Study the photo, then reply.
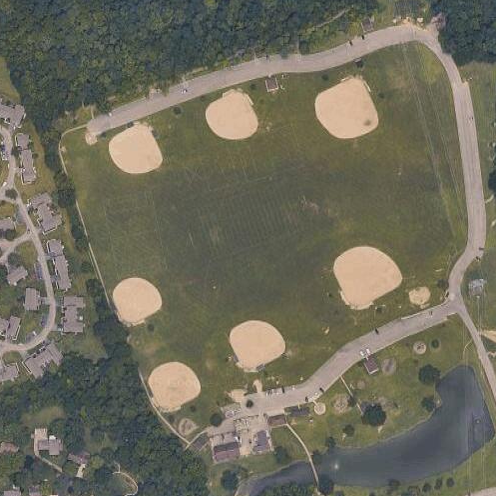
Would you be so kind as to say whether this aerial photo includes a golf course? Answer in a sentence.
No, there's no golf course here.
